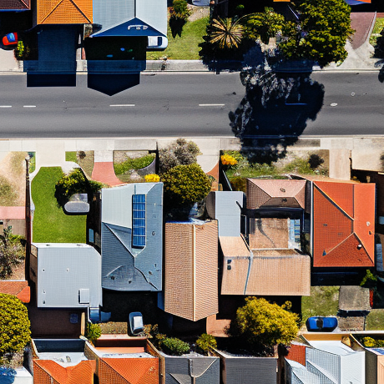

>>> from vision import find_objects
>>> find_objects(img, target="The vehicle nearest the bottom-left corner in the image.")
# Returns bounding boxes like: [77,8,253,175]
[95,300,113,326]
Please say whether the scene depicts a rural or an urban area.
urban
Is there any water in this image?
No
